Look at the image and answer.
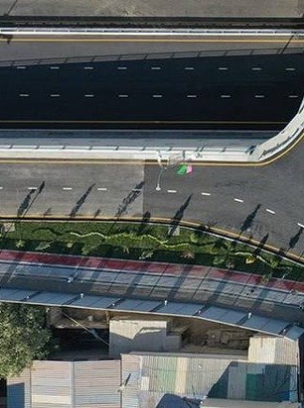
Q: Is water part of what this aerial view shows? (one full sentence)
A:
No, the picture contains no water.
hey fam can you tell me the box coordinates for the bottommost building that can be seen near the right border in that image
[229,353,304,405]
